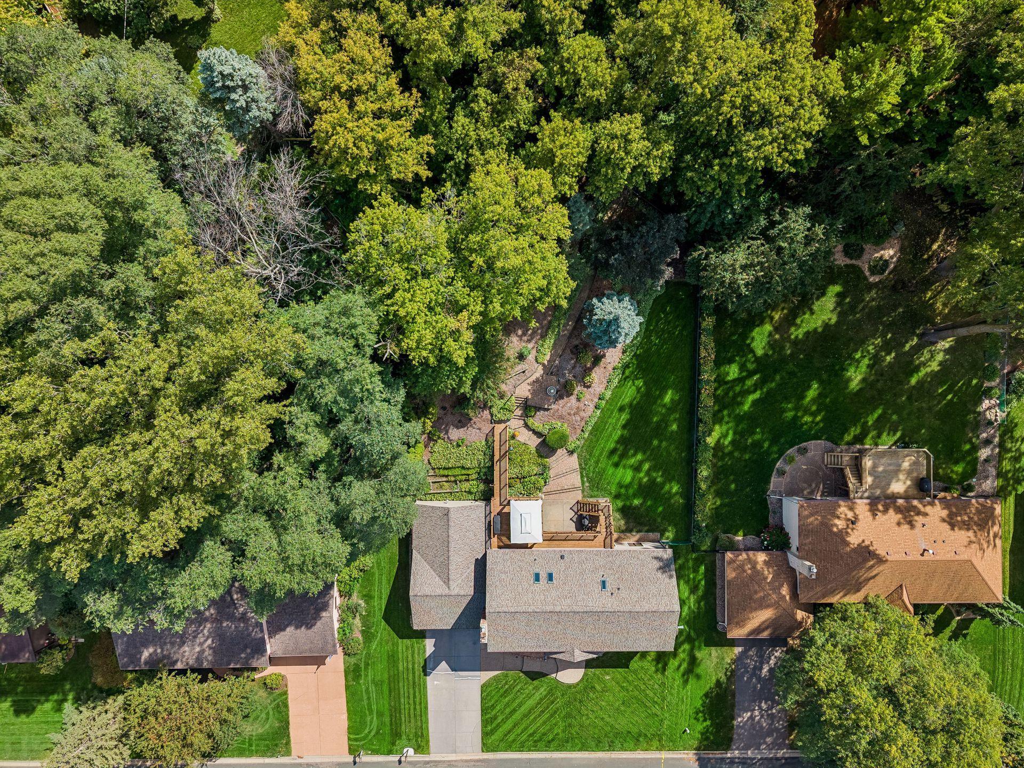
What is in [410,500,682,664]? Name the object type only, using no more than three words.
house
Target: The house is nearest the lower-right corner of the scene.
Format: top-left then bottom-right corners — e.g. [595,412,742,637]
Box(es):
[713,496,1003,639]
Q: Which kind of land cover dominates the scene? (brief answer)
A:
trees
